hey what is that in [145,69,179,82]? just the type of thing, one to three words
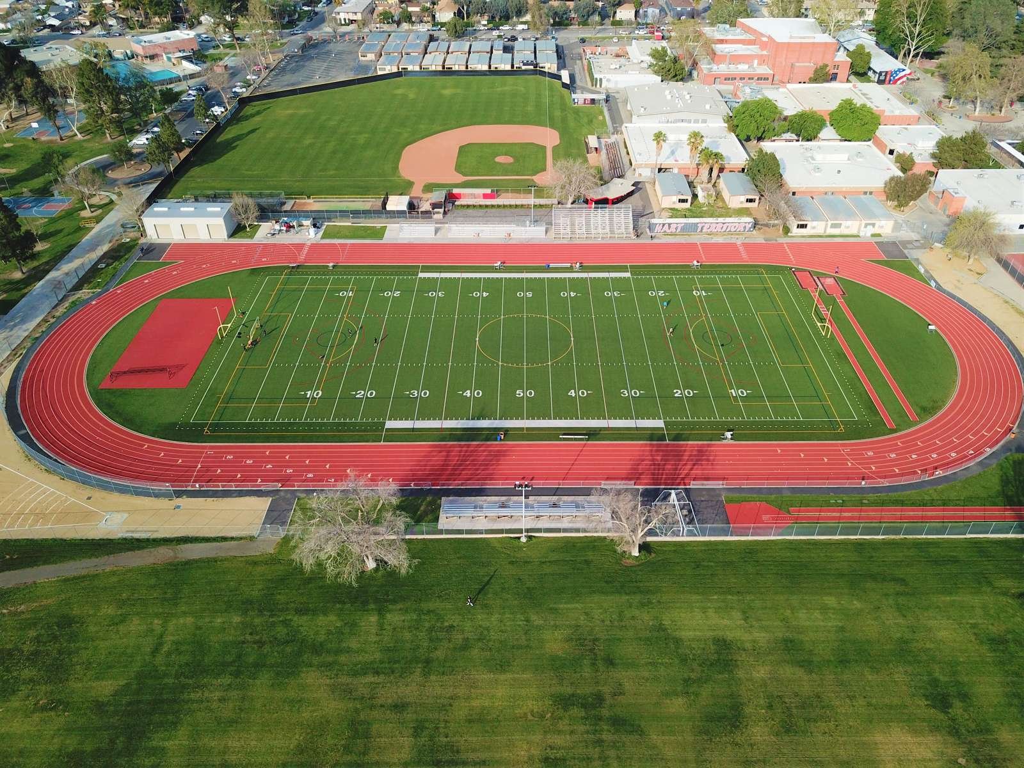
swimming pool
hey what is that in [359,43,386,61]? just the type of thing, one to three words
building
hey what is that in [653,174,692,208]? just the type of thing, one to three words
building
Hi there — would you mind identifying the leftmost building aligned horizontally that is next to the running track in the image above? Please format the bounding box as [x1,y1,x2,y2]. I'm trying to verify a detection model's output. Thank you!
[142,203,239,239]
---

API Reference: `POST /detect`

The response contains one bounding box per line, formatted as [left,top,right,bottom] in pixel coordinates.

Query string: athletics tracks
[20,259,1024,488]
